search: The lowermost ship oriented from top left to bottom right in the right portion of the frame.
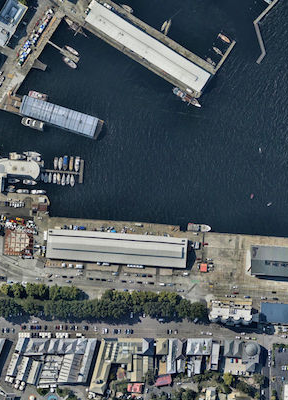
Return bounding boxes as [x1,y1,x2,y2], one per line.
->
[173,86,200,106]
